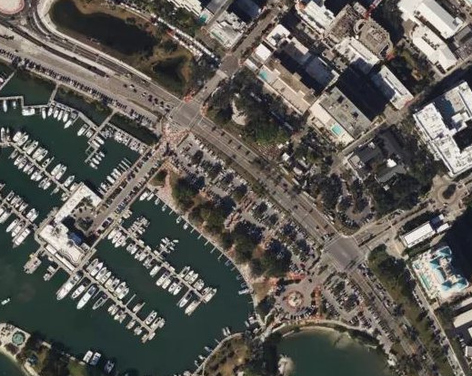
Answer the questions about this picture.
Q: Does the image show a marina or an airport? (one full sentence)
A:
What you see here is a marina.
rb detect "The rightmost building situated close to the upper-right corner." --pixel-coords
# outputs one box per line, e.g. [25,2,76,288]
[454,24,472,61]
